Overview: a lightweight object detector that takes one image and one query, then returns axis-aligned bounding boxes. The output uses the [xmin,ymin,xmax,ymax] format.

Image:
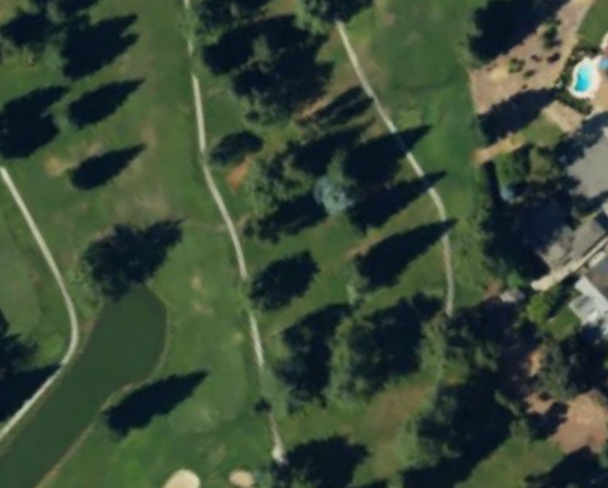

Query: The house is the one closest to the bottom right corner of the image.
[569,276,608,326]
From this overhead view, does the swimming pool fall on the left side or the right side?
right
